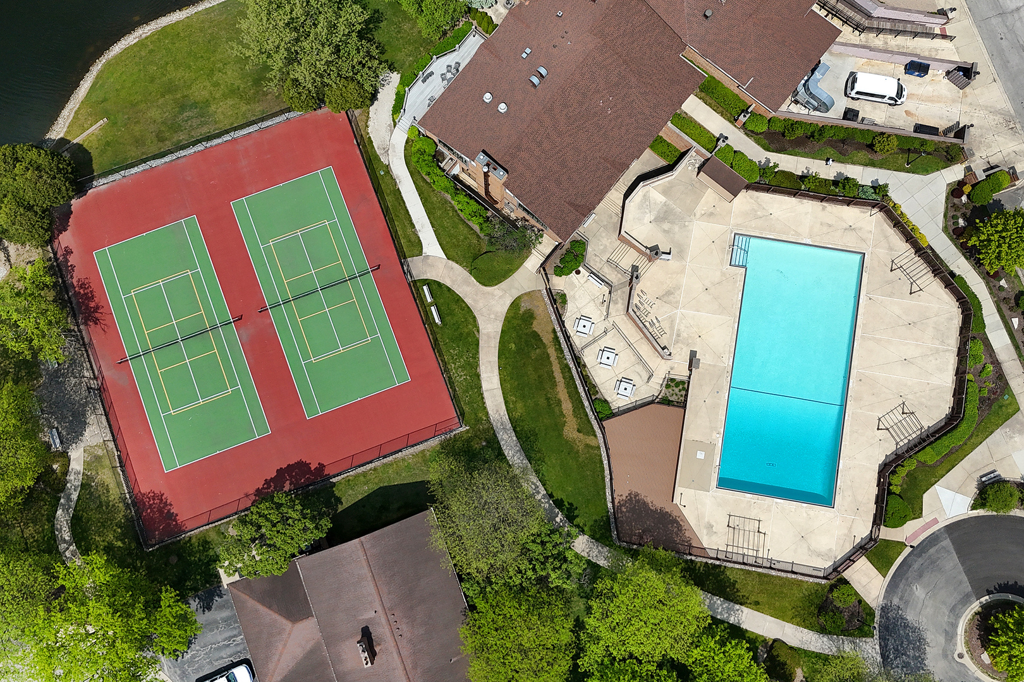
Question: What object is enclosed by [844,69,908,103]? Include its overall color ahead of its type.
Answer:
white van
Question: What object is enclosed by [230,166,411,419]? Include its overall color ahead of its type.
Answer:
green tennis court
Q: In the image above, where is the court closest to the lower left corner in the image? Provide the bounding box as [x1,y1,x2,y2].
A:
[93,216,271,473]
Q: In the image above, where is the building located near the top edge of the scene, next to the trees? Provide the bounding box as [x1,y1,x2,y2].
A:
[417,0,842,242]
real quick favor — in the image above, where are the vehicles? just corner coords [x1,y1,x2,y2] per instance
[199,665,247,682]
[844,69,908,103]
